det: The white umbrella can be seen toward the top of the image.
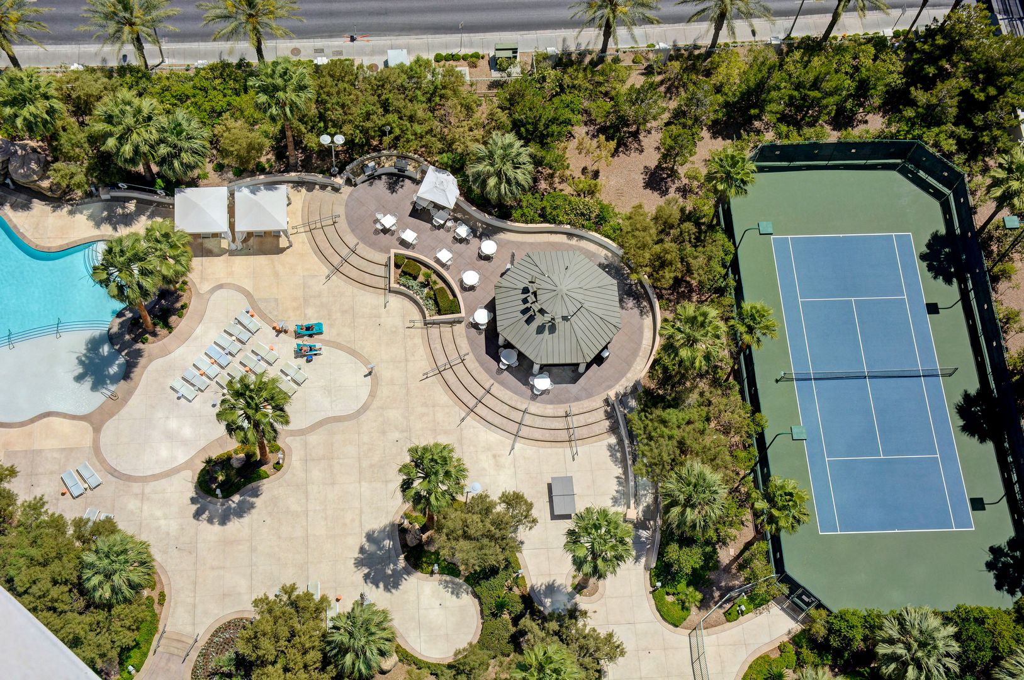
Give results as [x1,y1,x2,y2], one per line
[417,166,460,211]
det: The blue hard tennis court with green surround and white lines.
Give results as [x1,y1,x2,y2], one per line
[711,159,1024,632]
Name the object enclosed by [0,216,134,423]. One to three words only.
swimming pool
